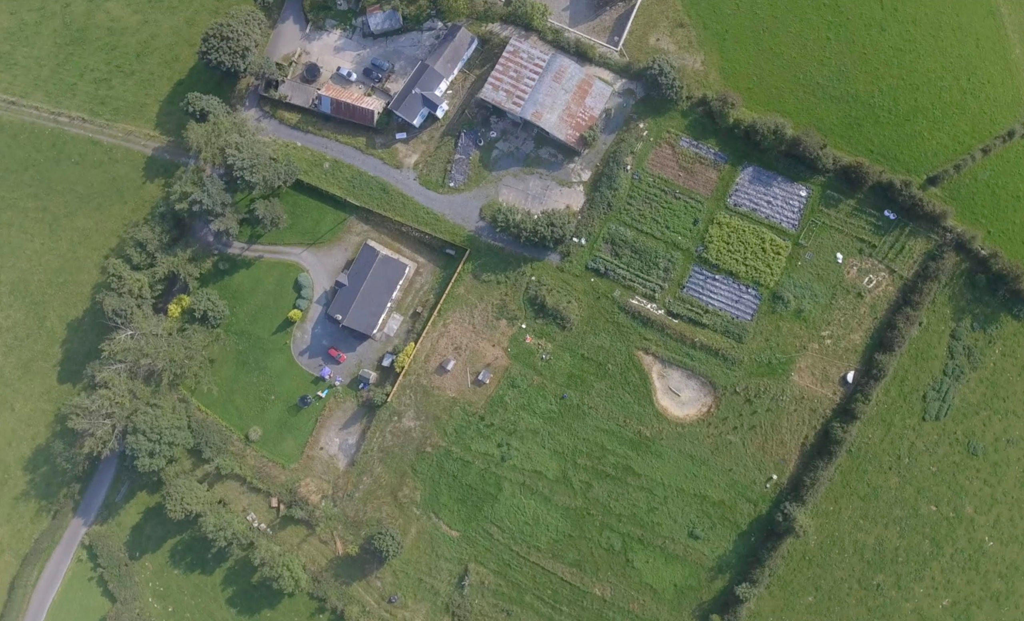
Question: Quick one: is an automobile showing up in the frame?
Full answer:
Yes, the photo shows an automobile.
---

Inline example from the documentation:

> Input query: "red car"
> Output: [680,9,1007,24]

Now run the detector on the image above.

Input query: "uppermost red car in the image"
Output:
[326,347,348,364]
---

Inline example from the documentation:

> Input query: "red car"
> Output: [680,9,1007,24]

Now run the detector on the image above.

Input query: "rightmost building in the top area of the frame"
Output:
[477,38,613,155]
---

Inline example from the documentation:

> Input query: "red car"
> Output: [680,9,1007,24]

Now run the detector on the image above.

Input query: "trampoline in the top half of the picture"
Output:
[302,62,320,81]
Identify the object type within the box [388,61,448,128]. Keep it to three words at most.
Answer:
house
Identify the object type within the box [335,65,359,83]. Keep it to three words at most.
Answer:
car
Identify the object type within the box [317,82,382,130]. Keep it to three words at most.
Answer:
shed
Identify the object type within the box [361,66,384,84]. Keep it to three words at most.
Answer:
car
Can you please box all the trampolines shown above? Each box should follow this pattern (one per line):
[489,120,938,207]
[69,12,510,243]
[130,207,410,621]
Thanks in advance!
[302,62,320,81]
[295,394,313,409]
